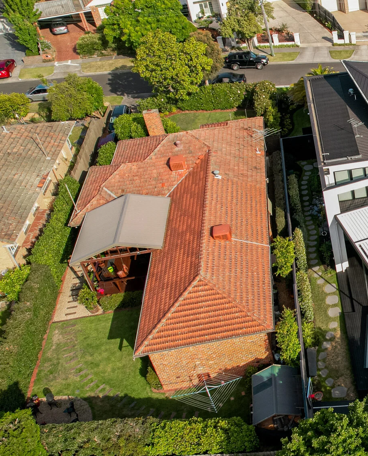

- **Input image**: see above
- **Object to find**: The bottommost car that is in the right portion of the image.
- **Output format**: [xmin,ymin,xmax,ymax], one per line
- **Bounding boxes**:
[208,70,250,88]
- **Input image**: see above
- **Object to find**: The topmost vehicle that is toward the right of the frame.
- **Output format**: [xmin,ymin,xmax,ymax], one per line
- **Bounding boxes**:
[226,48,268,69]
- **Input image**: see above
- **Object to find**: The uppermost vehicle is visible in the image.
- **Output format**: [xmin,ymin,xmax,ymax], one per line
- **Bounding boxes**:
[50,19,69,35]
